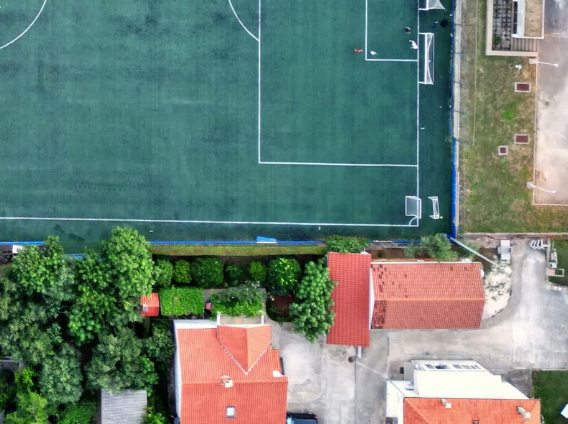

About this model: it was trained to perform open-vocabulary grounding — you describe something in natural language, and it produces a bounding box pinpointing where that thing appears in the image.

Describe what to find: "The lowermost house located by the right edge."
[394,357,541,424]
